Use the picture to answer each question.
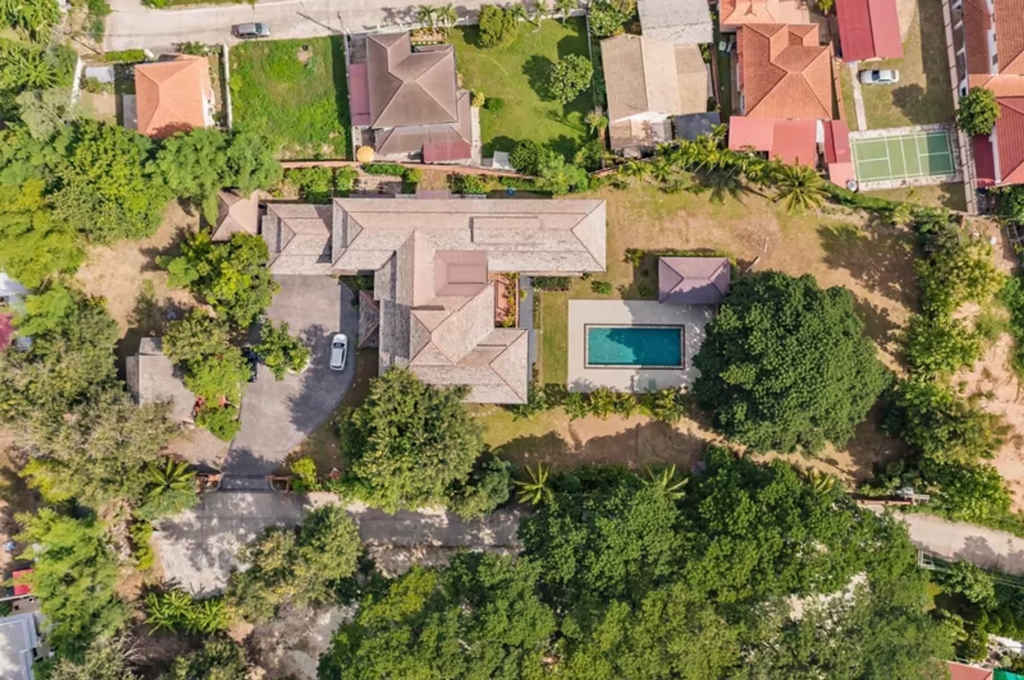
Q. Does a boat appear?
No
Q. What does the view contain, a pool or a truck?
pool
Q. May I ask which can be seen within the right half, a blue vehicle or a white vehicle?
white vehicle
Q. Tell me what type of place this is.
residential area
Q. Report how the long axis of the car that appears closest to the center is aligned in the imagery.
from top to bottom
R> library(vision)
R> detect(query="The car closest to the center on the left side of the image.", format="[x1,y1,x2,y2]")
[328,334,348,371]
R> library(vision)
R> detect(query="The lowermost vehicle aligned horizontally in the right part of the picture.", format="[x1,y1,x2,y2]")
[859,67,899,86]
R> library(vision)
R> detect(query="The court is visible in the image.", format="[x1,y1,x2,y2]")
[852,131,956,182]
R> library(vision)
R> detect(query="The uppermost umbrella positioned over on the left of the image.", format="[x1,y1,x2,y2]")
[357,145,375,163]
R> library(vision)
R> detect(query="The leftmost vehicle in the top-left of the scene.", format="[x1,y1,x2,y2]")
[232,19,270,39]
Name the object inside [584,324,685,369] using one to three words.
swimming pool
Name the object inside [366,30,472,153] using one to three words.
house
